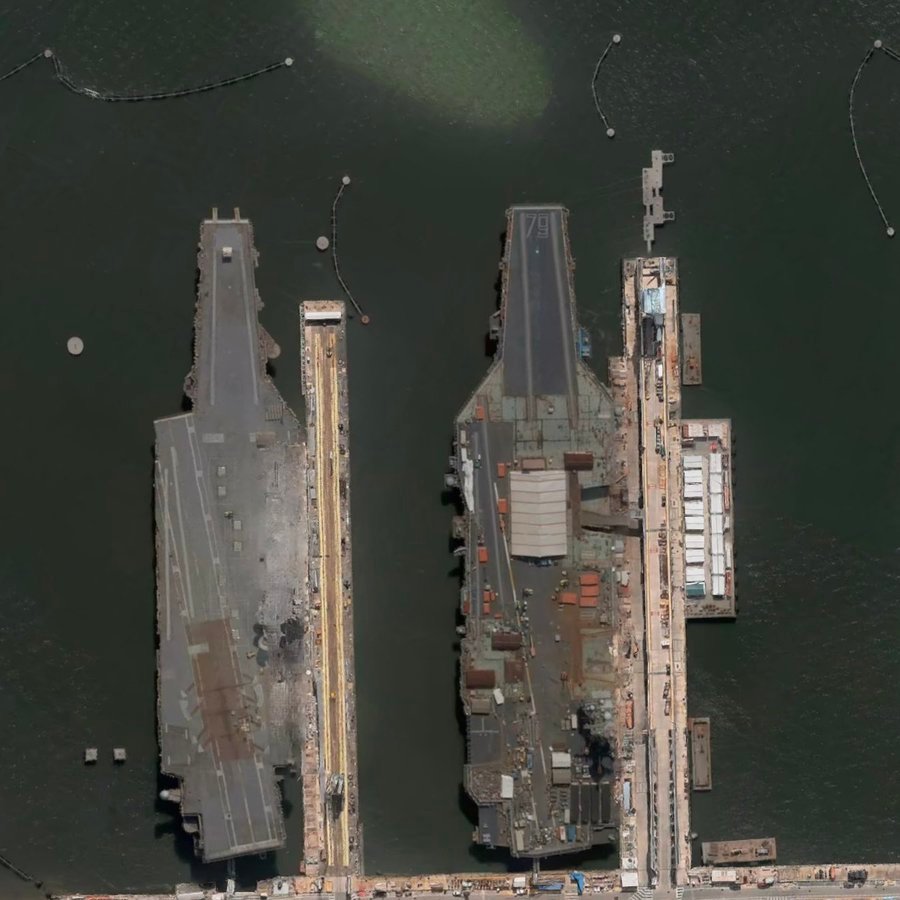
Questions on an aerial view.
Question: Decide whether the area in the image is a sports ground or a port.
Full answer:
It's a port.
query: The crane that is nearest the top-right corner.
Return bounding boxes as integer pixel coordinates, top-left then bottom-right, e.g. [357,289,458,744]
[642,275,666,316]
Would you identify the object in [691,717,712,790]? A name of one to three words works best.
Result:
ship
